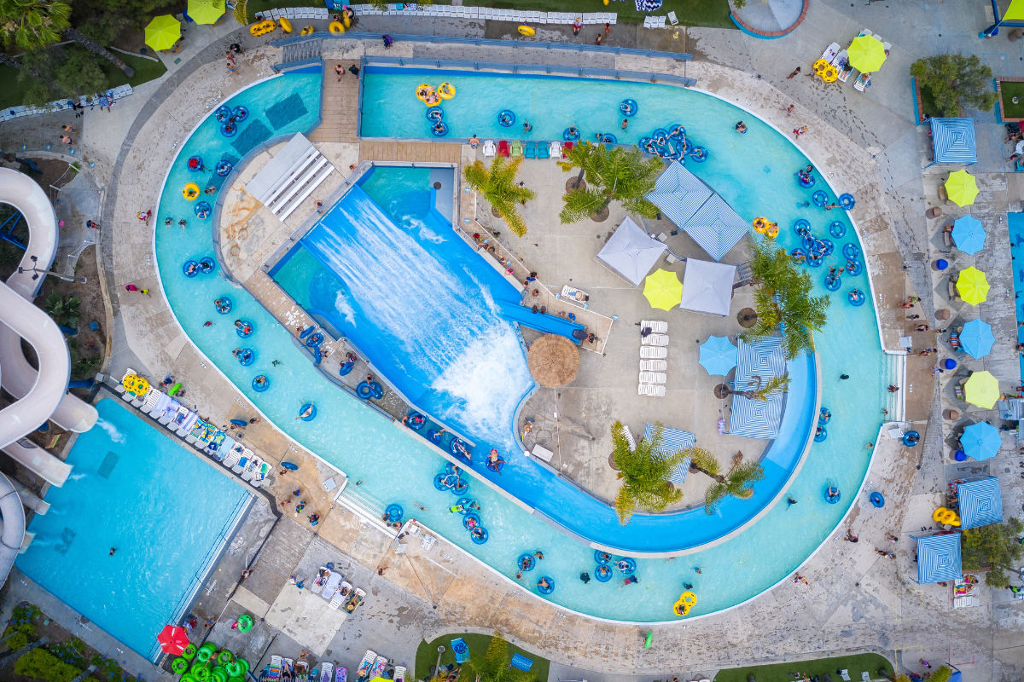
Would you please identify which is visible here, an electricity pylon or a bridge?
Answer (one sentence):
Looking from above, you can make out a bridge.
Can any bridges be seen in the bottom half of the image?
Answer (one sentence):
No, no bridge is visible in the bottom half of the image.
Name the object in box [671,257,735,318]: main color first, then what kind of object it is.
white tent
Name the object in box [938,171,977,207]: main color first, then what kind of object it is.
green umbrella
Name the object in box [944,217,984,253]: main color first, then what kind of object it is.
blue umbrella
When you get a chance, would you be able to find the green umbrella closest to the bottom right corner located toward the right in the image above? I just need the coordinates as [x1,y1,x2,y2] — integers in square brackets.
[956,371,995,405]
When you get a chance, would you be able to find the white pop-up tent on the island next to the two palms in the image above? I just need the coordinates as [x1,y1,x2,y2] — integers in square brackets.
[593,217,667,290]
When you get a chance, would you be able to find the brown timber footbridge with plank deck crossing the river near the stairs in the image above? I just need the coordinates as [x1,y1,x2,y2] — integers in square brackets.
[312,56,362,139]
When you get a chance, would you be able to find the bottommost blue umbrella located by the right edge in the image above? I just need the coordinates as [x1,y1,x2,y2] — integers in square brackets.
[955,419,997,460]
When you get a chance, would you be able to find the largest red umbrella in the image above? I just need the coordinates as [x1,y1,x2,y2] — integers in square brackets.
[161,622,194,654]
